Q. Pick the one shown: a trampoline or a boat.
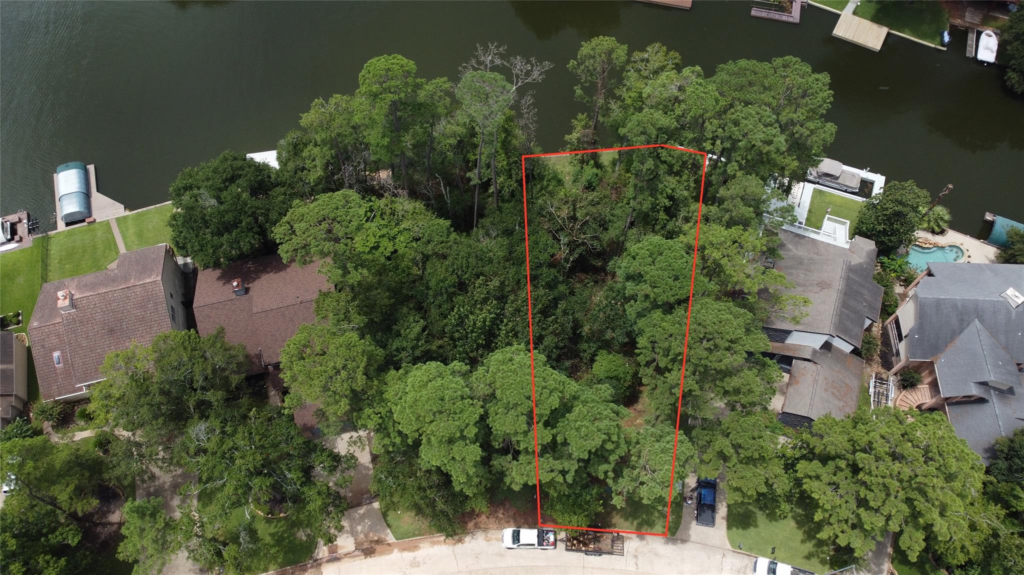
boat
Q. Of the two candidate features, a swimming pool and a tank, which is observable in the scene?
swimming pool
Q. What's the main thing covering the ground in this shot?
trees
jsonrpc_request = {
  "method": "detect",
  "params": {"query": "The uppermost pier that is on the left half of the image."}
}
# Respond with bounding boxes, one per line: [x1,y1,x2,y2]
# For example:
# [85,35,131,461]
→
[54,164,127,230]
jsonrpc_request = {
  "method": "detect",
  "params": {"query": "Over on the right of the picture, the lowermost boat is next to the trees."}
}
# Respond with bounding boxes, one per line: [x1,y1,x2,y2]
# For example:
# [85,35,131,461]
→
[807,155,862,193]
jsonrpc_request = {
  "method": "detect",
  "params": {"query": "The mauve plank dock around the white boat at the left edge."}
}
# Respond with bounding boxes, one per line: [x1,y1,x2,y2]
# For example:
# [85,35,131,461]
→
[0,210,33,255]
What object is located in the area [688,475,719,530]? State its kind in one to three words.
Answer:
truck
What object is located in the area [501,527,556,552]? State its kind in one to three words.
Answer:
truck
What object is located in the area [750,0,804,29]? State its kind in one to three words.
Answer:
pier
